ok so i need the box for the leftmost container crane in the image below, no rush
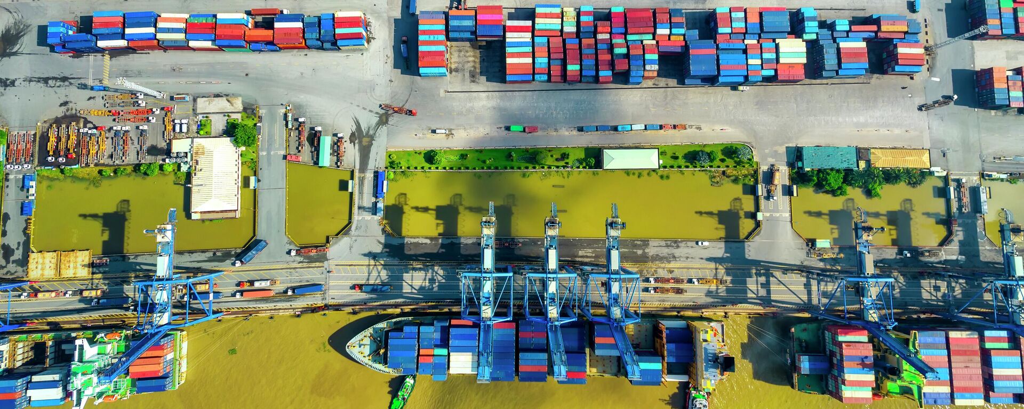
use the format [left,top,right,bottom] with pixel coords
[0,281,45,335]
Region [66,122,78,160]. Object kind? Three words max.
vehicle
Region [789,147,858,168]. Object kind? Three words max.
shed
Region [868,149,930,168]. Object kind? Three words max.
house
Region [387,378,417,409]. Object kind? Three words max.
boat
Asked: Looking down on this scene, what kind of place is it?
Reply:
port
